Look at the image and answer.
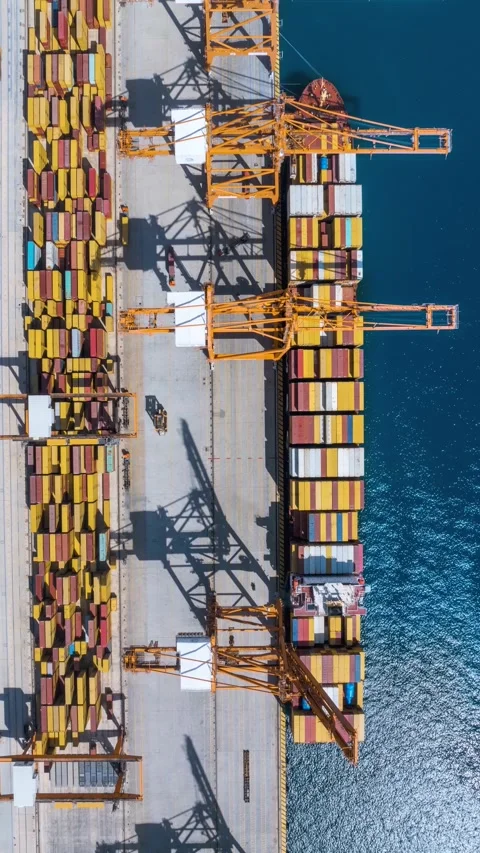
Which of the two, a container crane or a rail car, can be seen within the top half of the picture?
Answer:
container crane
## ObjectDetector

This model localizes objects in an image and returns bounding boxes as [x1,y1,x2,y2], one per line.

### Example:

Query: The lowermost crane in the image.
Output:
[0,728,141,807]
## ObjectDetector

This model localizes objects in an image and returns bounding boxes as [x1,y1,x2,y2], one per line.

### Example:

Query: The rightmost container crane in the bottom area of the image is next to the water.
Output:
[122,592,355,766]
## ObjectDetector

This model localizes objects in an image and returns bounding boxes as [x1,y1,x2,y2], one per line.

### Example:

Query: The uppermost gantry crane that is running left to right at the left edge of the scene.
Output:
[0,392,137,446]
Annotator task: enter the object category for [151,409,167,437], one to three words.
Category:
work vehicle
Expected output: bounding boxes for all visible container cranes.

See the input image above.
[0,392,137,446]
[171,0,286,77]
[116,86,454,214]
[118,285,459,364]
[122,592,355,766]
[0,728,141,807]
